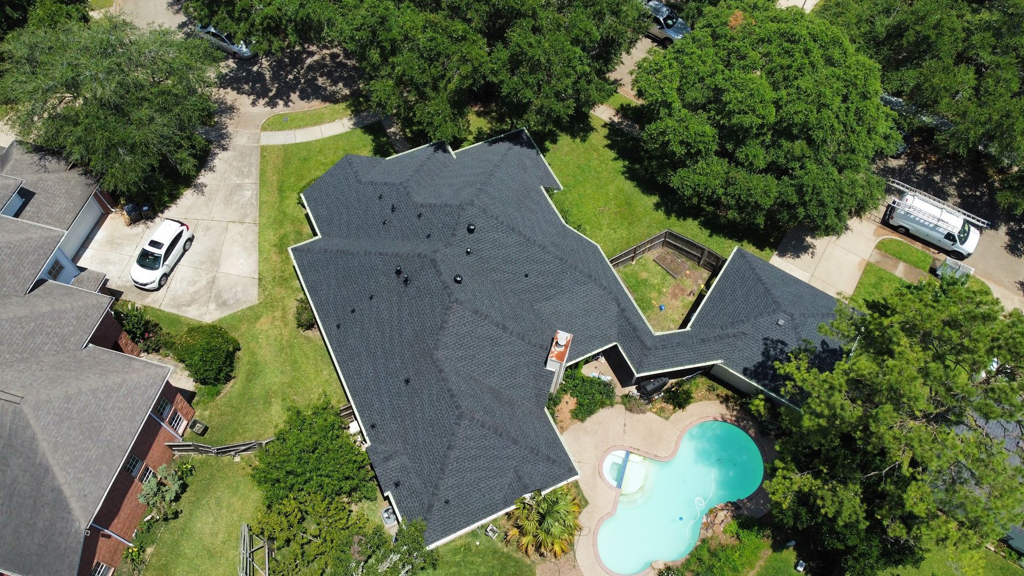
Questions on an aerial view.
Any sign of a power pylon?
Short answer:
No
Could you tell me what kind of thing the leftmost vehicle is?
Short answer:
car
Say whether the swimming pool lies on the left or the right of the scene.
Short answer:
right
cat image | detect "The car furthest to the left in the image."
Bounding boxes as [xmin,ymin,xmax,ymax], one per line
[125,218,193,293]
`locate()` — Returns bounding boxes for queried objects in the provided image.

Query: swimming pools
[591,415,770,576]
